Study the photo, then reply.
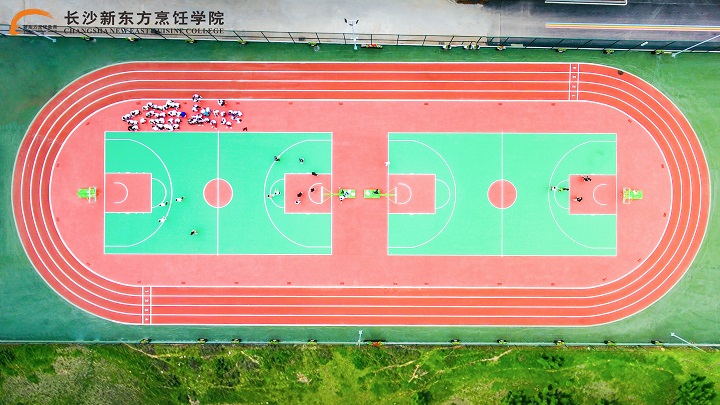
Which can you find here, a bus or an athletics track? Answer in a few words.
athletics track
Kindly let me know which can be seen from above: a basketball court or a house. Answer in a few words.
basketball court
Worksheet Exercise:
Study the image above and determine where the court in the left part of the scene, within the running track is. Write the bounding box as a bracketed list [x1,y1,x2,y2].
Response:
[104,130,333,255]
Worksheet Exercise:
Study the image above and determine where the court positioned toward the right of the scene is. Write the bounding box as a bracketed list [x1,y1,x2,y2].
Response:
[388,131,617,256]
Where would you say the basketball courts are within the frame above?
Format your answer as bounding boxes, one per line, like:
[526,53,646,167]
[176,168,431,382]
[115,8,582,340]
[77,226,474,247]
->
[104,130,333,255]
[388,131,617,256]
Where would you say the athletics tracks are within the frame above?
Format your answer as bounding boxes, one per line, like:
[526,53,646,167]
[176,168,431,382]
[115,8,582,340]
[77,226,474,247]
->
[12,62,710,326]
